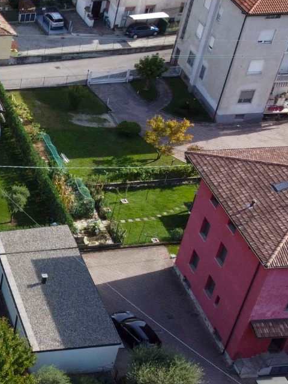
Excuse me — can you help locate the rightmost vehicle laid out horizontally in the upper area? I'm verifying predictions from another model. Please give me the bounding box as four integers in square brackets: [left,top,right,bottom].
[127,24,159,38]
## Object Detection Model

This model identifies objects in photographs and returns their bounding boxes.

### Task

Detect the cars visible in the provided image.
[45,15,62,29]
[127,24,159,38]
[109,311,170,357]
